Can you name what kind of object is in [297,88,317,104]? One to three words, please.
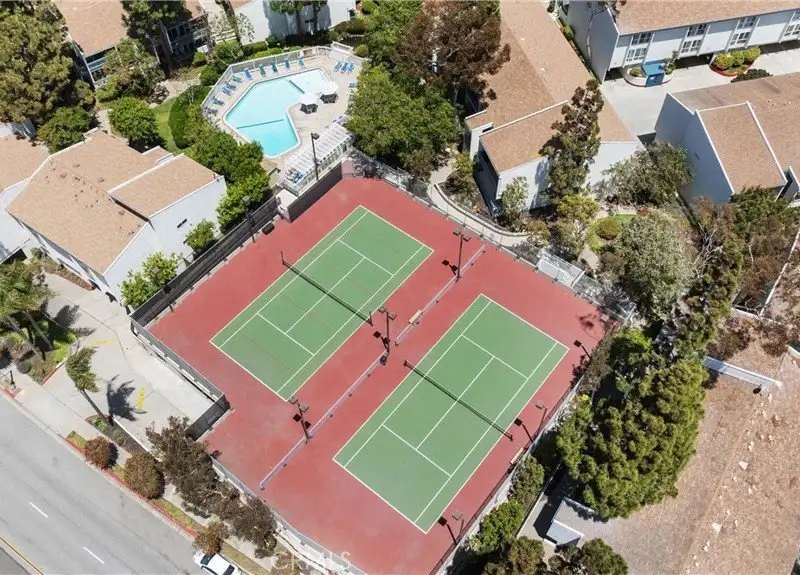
umbrella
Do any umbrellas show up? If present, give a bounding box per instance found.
[316,79,339,94]
[297,88,317,104]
